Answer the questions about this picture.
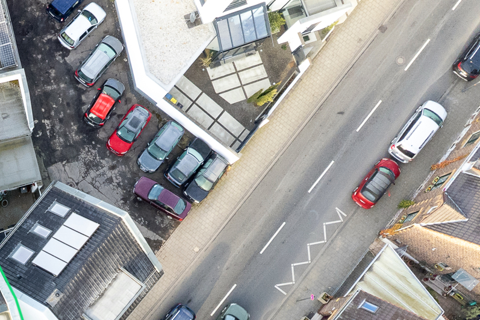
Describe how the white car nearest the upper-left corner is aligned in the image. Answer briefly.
at an angle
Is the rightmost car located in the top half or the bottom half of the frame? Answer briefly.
top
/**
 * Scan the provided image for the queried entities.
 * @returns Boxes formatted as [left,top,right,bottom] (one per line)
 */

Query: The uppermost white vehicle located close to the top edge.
[54,1,107,54]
